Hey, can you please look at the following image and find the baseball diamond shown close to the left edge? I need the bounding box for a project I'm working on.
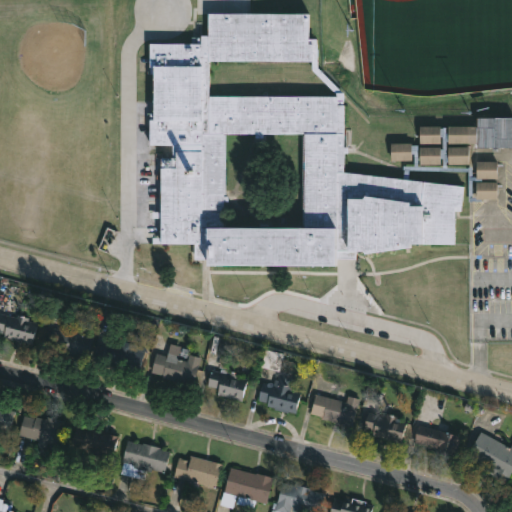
[20,22,86,92]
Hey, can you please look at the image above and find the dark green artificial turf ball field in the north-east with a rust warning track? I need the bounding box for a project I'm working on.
[358,0,512,94]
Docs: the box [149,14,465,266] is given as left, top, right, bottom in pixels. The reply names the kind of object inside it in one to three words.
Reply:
building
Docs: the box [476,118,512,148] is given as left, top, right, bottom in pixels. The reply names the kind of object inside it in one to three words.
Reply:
shed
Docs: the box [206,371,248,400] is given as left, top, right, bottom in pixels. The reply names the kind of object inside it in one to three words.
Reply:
house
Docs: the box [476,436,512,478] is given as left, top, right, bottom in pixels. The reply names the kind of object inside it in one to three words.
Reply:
house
